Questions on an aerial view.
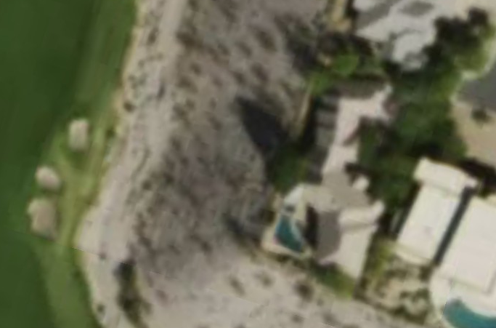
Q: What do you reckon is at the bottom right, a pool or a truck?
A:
pool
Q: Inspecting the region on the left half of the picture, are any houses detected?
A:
No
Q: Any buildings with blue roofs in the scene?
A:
No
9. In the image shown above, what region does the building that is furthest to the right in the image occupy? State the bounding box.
[443,197,496,294]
